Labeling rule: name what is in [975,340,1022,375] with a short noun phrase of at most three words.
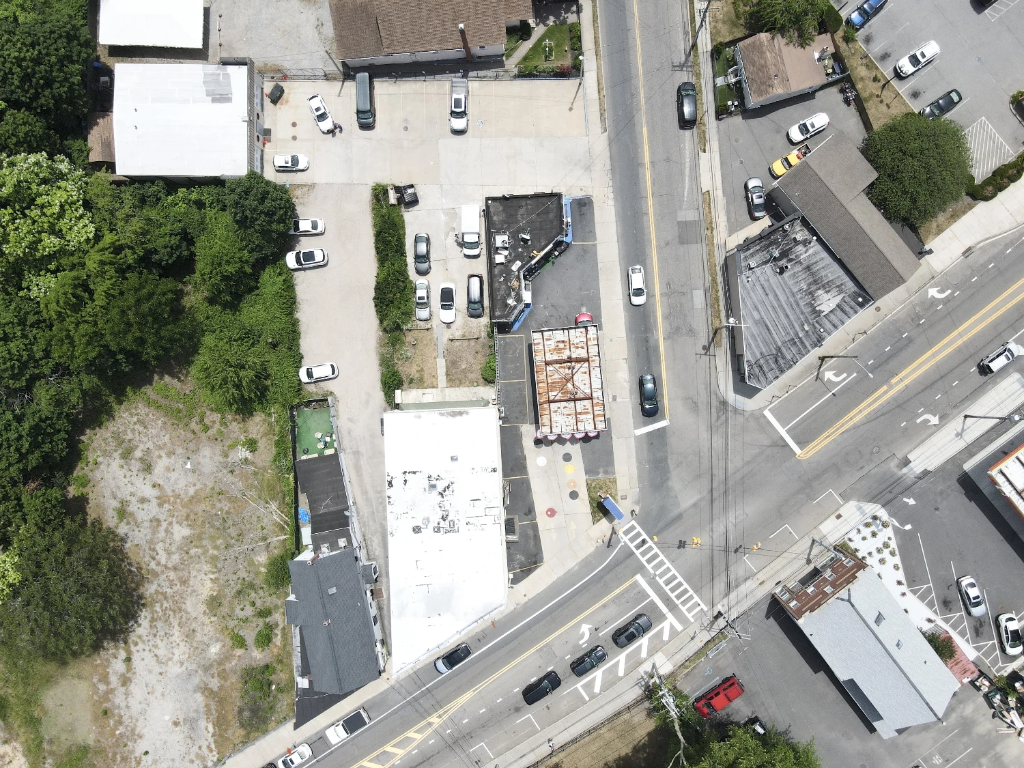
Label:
car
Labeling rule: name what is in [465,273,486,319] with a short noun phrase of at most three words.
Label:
vehicle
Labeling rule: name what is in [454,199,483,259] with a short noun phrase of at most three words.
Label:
truck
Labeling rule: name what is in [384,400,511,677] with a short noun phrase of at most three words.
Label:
building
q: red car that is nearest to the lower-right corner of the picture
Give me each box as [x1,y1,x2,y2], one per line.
[690,679,747,717]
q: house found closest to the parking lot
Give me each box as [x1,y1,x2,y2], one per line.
[729,32,839,110]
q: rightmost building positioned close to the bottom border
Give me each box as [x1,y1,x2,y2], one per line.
[766,543,961,739]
